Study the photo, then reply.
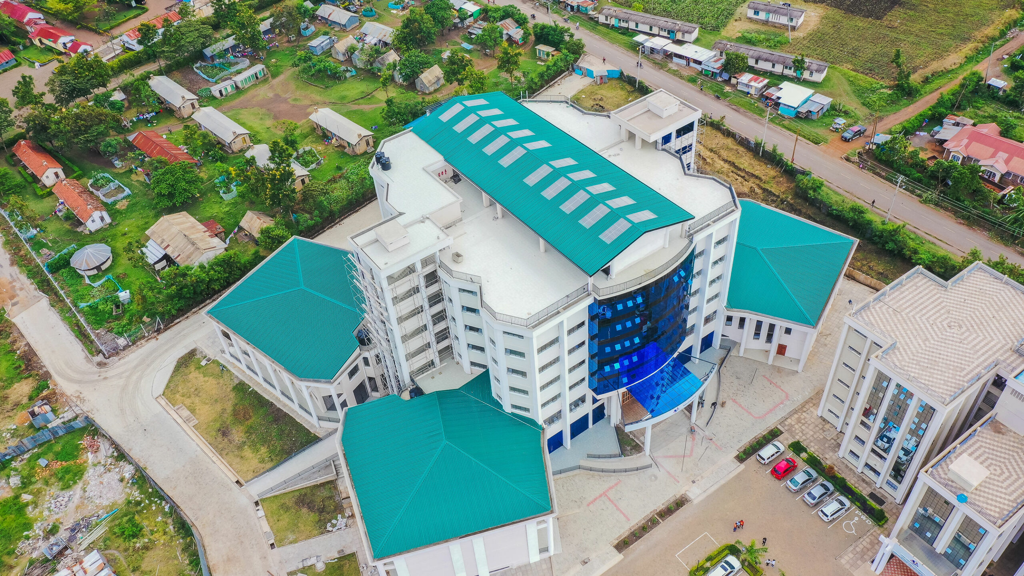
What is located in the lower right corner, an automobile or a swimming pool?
automobile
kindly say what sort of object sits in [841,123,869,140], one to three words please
vehicle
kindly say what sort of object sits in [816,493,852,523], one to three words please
car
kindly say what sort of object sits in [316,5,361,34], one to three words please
house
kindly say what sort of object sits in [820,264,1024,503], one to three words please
building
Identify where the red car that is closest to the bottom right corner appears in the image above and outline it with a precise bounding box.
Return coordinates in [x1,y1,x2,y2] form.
[772,454,804,480]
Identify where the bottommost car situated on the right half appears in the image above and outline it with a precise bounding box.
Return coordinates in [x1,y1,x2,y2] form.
[699,552,741,576]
